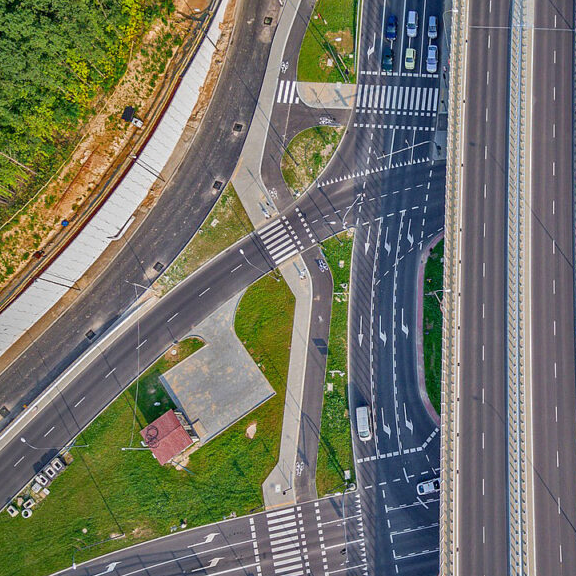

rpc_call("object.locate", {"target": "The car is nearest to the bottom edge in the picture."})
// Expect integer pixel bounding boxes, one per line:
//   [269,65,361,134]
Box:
[416,477,439,495]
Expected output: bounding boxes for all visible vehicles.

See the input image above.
[385,15,399,42]
[381,45,395,71]
[426,16,439,40]
[405,12,419,39]
[416,477,439,495]
[425,45,439,73]
[355,406,372,442]
[404,47,417,70]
